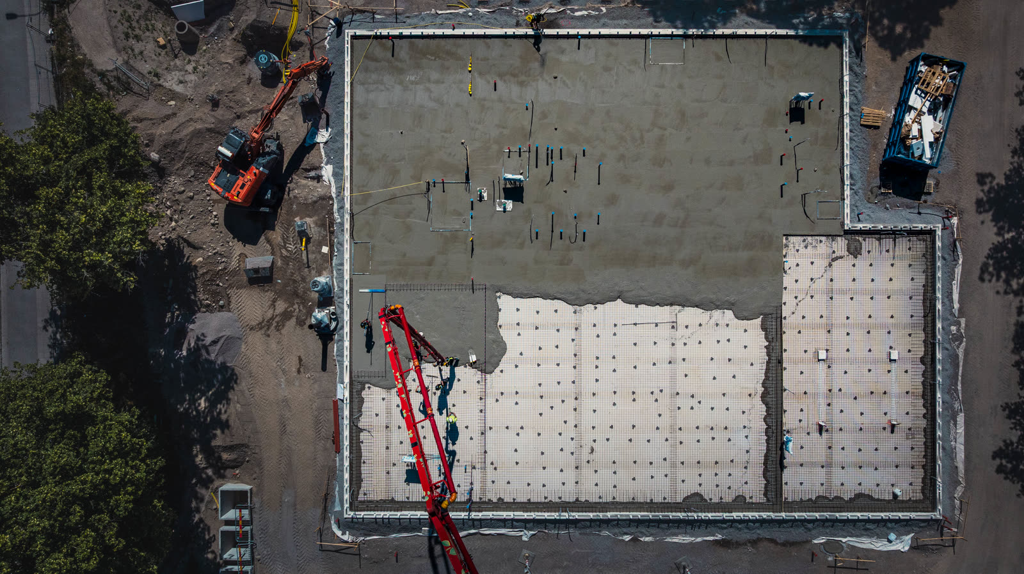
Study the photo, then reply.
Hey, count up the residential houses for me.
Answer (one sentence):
The photo contains no residential houses.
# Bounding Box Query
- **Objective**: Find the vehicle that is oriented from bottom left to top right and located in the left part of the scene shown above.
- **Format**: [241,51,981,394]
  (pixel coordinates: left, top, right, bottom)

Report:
[213,54,343,209]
